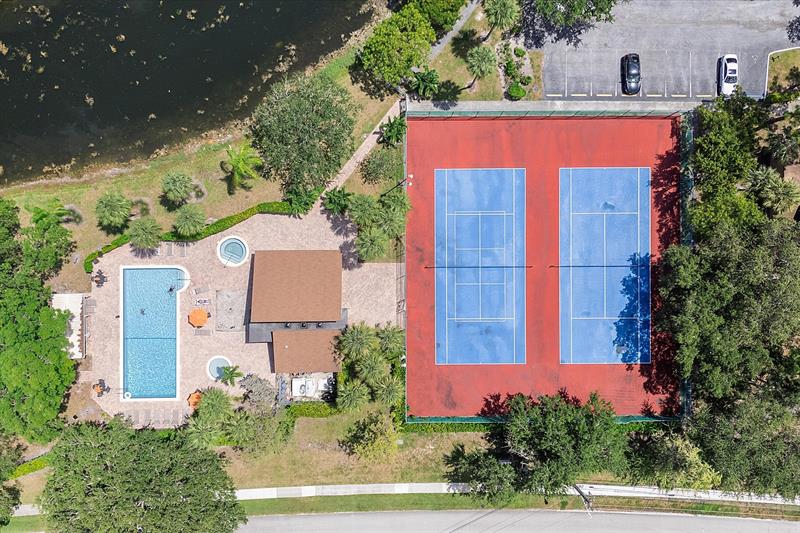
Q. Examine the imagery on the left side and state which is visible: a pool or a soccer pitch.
pool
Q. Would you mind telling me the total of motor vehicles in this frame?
2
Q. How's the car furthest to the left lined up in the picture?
vertically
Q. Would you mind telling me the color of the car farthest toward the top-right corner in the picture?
white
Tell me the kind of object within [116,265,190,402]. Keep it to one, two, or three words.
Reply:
swimming pool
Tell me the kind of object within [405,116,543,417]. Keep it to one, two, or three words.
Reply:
tennis court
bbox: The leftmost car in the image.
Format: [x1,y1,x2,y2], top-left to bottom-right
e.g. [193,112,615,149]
[623,53,642,95]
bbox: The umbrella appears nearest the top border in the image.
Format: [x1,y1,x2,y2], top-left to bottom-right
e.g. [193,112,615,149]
[189,308,209,327]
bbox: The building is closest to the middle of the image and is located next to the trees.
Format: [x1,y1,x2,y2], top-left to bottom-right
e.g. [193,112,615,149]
[248,250,348,373]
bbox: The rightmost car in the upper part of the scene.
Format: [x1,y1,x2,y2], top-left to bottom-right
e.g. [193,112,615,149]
[718,55,739,96]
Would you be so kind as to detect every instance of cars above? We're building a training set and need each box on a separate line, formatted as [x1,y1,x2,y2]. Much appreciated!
[718,55,739,96]
[623,53,642,95]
